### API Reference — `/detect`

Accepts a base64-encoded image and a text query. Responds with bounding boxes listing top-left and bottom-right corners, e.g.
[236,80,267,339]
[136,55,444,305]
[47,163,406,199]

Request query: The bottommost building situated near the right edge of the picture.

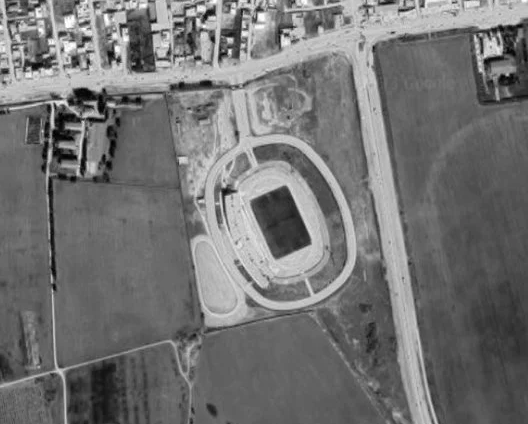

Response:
[491,60,517,75]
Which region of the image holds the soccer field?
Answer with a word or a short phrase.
center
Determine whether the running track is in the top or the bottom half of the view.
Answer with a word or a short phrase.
bottom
